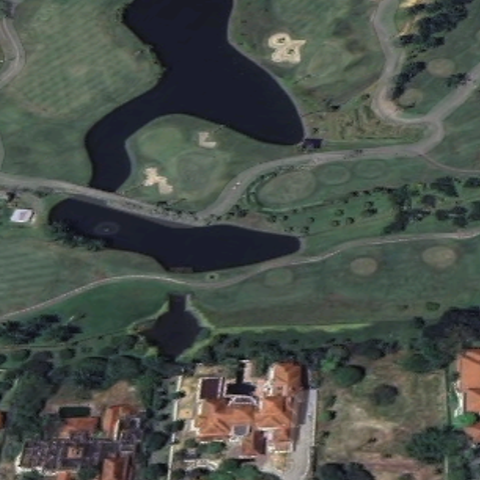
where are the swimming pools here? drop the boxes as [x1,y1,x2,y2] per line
[226,366,258,396]
[56,404,94,419]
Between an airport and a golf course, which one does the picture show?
golf course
